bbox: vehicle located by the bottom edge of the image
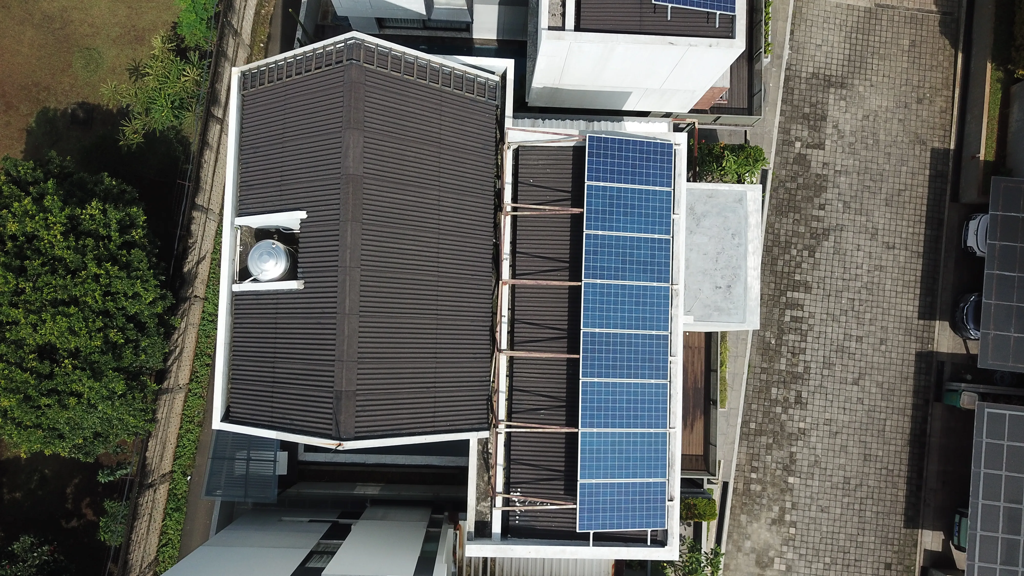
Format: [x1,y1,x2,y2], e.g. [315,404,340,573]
[946,506,969,554]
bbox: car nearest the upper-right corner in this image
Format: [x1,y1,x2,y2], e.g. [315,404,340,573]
[959,214,988,260]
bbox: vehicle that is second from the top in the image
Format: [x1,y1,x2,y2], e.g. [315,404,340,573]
[944,293,983,341]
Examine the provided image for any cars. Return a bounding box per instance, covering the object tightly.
[946,506,969,554]
[944,293,983,341]
[959,214,988,260]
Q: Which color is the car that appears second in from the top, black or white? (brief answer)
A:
black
